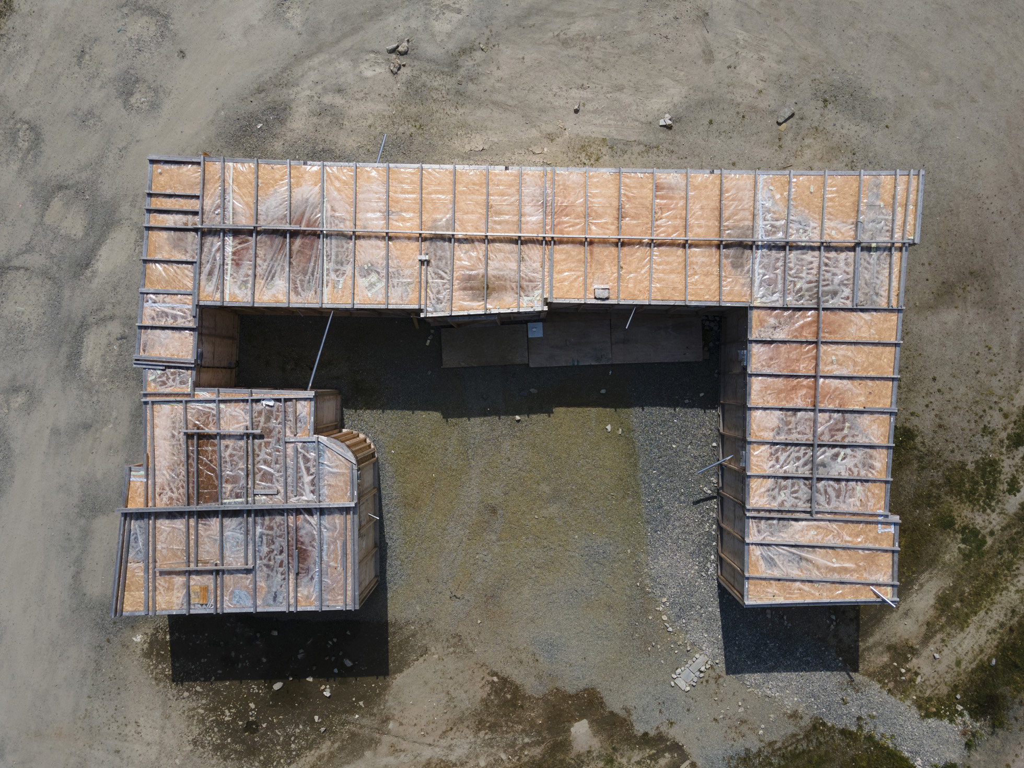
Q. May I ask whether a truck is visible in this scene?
No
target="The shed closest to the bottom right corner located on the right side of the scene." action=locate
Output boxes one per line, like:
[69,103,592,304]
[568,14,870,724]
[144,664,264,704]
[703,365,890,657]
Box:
[697,293,905,608]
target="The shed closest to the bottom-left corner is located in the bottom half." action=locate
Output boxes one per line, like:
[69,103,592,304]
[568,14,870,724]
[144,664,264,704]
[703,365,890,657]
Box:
[112,386,380,618]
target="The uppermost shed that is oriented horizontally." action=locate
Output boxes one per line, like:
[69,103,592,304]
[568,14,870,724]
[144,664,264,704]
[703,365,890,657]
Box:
[157,134,925,329]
